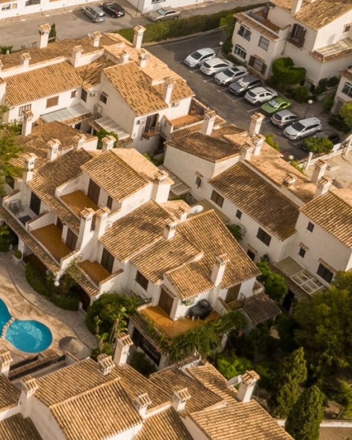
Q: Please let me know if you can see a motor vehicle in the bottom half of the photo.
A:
No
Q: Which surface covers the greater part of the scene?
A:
buildings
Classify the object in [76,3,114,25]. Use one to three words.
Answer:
car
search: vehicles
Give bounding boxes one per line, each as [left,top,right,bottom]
[264,108,305,131]
[76,3,114,25]
[280,114,327,143]
[225,71,268,98]
[210,60,254,86]
[96,0,134,21]
[181,46,218,69]
[255,94,299,116]
[196,54,235,78]
[241,86,281,108]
